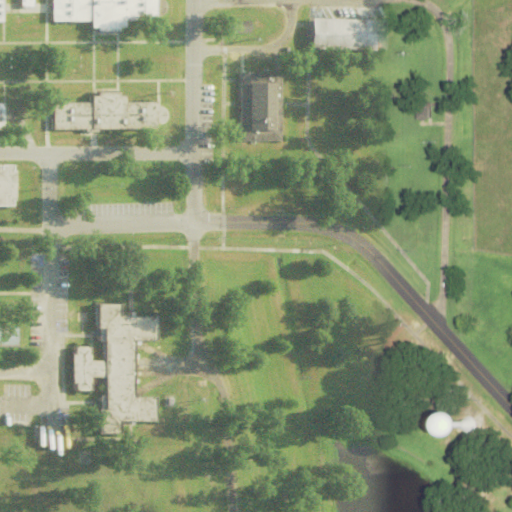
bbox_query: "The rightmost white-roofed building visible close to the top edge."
[314,18,381,50]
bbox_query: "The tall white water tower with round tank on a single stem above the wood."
[430,416,478,444]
